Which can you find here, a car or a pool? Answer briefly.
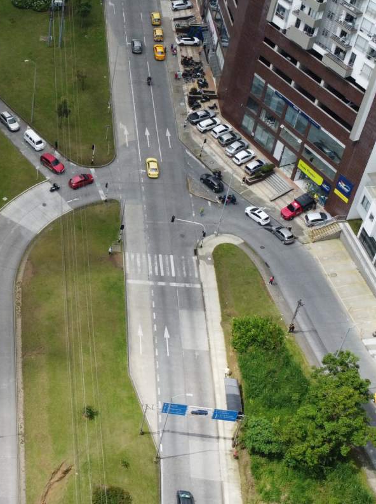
car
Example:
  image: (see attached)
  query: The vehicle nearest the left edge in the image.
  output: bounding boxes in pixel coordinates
[0,111,19,131]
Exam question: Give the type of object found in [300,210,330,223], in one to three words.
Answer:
vehicle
